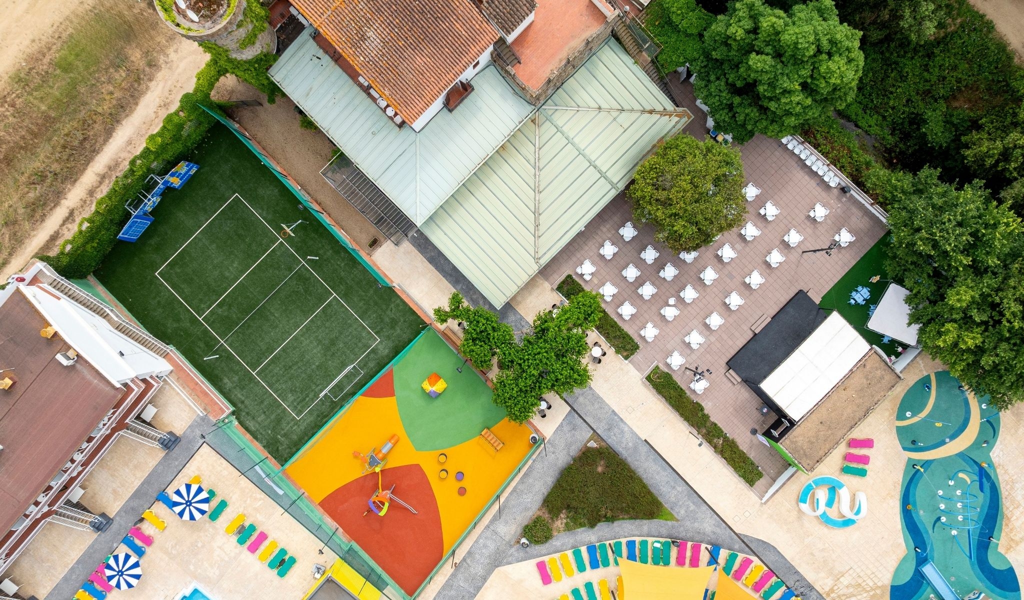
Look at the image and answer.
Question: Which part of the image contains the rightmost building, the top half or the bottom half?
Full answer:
You can find the rightmost building in the bottom half.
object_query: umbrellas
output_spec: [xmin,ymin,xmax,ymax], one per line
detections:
[103,551,140,588]
[174,482,211,519]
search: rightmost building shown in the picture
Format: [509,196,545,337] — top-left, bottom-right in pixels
[743,310,905,477]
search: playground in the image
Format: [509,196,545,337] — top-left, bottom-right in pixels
[286,330,540,595]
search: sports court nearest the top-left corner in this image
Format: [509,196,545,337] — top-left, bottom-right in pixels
[95,128,432,461]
